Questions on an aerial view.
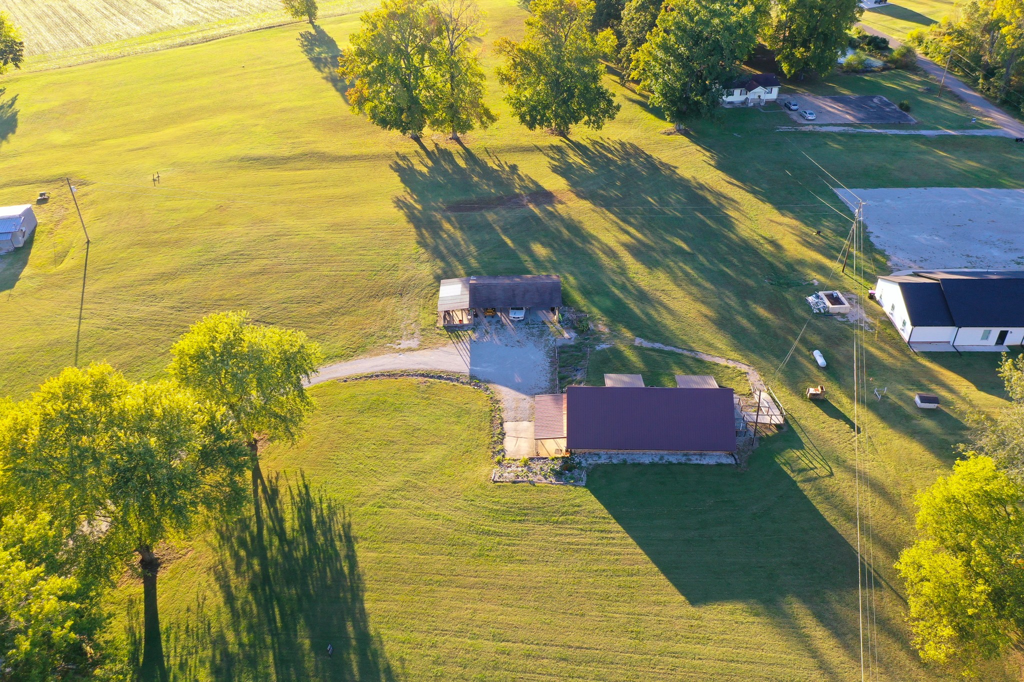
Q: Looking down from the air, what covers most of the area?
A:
grass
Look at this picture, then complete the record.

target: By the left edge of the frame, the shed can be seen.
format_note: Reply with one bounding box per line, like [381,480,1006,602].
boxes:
[0,203,37,255]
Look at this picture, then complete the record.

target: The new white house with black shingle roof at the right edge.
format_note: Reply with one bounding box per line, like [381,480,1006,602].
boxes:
[870,266,1024,356]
